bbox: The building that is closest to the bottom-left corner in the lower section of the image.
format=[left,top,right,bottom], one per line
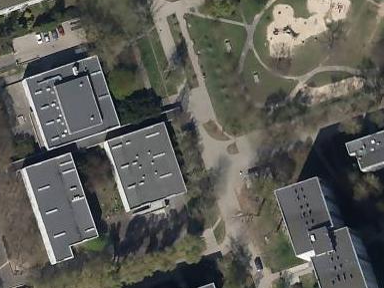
[21,153,98,266]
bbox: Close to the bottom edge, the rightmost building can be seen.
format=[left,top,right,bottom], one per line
[274,178,370,288]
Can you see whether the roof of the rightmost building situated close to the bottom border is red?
No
